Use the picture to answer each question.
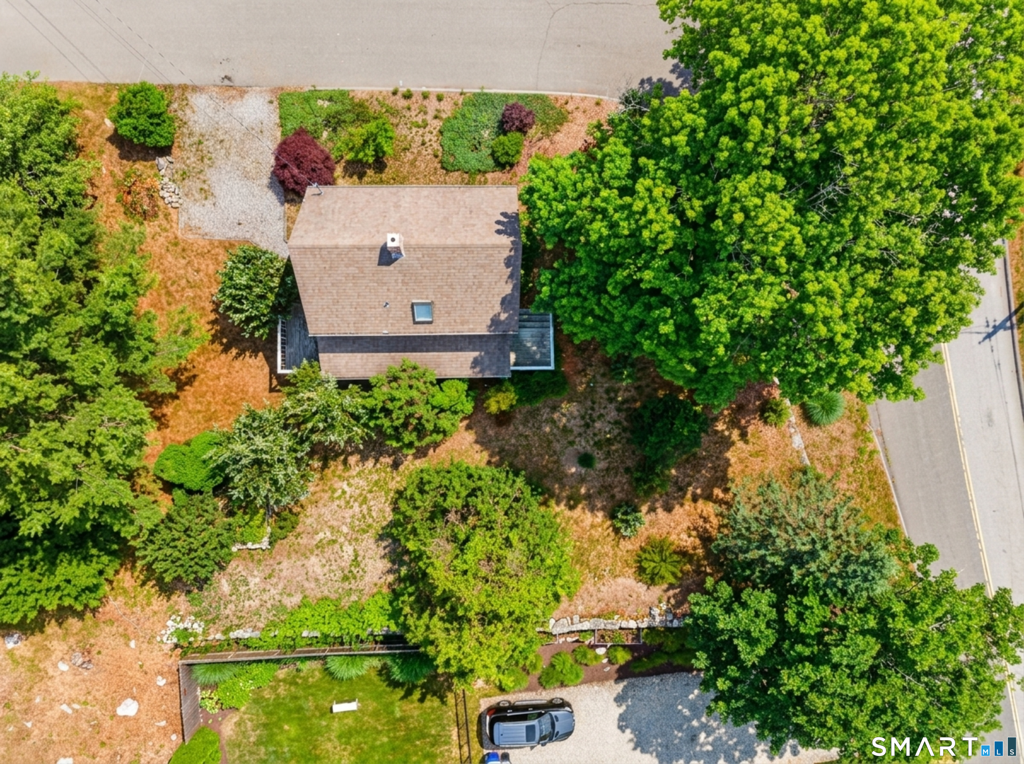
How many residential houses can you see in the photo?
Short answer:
1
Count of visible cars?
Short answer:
1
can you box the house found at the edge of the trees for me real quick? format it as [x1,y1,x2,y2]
[284,184,521,379]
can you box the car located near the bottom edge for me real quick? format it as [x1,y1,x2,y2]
[480,696,575,748]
